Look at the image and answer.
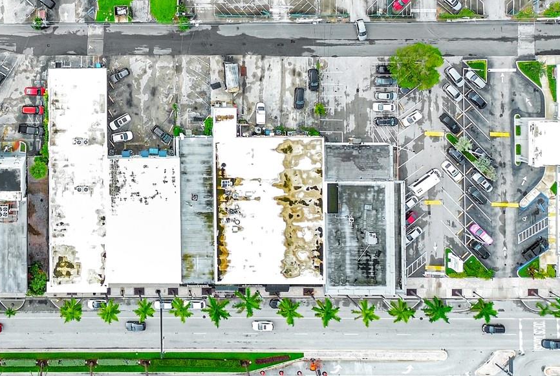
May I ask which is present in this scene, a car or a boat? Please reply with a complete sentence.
The one in the frame is a car.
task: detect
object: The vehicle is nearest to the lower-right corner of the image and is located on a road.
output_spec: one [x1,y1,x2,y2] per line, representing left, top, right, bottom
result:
[541,339,560,351]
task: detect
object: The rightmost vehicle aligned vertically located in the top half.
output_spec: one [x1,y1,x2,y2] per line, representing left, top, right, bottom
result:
[354,18,366,41]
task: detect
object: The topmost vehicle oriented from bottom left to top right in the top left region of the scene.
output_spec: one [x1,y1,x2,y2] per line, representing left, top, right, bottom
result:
[108,67,131,85]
